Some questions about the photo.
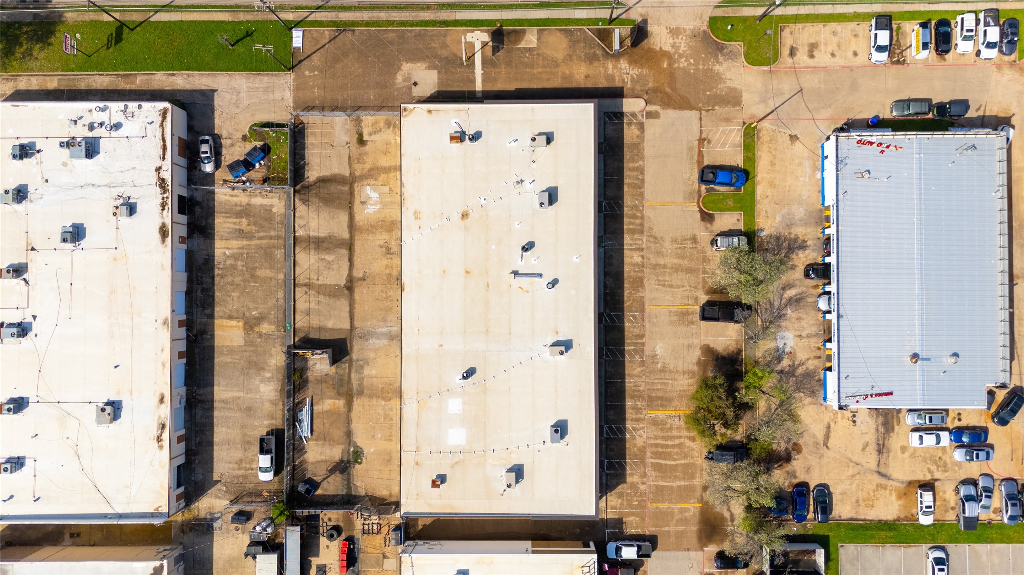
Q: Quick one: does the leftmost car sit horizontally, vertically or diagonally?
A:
vertically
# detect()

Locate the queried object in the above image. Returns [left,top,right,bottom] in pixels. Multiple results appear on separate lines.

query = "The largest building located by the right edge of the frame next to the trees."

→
[820,131,1012,411]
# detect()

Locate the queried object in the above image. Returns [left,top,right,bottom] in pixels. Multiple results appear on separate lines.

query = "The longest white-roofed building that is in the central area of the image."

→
[400,99,598,518]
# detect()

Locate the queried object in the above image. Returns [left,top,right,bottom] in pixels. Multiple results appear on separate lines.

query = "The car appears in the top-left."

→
[198,135,219,174]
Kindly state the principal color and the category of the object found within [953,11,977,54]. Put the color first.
white car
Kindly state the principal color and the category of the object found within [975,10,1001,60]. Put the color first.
white truck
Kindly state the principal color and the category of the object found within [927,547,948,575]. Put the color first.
white car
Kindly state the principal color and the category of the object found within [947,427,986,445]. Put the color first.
blue car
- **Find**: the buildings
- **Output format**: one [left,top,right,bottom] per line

[820,131,1012,411]
[0,546,184,575]
[400,99,598,518]
[0,103,188,525]
[401,538,597,575]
